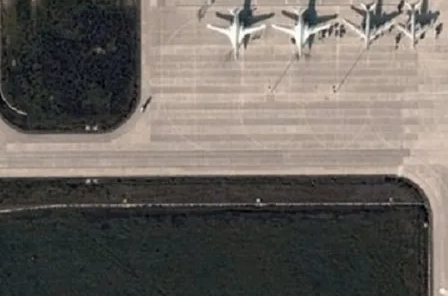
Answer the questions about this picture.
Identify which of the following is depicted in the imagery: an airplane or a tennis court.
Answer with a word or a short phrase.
airplane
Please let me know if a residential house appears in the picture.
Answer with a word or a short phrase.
No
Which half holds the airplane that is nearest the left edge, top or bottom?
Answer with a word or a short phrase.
top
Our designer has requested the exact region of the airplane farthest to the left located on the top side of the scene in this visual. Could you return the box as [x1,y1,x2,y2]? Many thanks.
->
[207,4,265,60]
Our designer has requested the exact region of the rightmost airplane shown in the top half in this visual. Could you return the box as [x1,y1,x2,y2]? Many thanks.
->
[395,0,432,50]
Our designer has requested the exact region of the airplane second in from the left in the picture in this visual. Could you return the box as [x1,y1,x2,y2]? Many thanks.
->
[272,4,329,60]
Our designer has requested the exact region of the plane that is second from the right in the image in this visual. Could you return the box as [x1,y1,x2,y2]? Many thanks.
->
[341,0,393,51]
